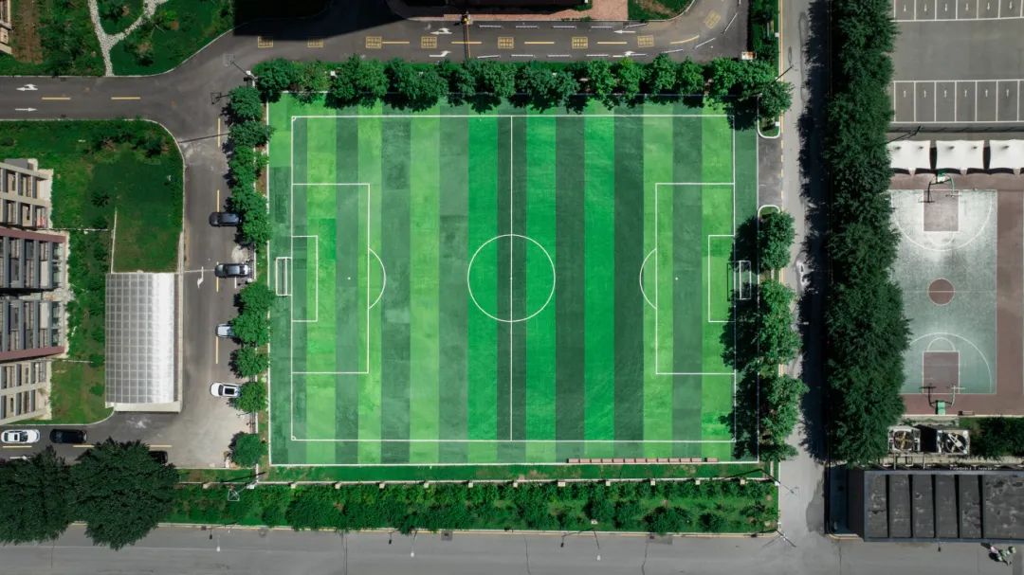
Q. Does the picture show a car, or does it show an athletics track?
car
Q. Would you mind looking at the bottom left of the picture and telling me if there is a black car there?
Yes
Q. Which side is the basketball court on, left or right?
right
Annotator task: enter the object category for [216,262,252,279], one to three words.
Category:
car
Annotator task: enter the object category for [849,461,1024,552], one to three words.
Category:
building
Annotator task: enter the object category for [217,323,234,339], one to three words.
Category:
car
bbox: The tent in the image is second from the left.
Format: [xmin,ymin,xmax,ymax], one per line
[926,140,983,172]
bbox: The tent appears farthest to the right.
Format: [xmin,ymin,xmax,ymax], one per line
[977,140,1024,172]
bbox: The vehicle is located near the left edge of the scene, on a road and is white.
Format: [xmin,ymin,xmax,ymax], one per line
[2,429,40,446]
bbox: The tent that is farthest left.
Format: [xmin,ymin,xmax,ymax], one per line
[887,140,930,172]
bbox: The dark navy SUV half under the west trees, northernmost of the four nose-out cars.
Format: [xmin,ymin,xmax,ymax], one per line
[209,210,244,227]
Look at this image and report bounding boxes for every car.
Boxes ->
[210,381,245,398]
[217,323,234,339]
[2,429,40,446]
[137,449,173,464]
[216,262,252,279]
[209,210,244,227]
[50,429,88,446]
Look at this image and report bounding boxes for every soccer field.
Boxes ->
[270,94,758,465]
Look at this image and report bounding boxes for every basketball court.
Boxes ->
[878,170,1024,415]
